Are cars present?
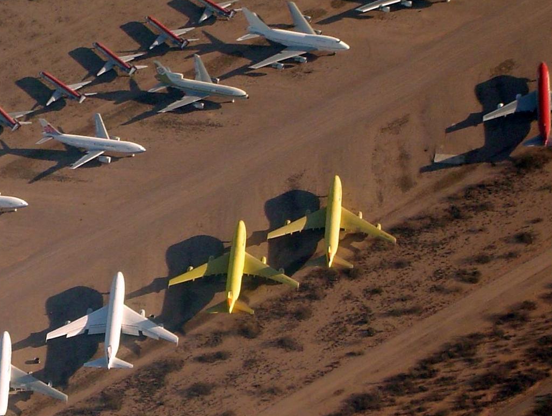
No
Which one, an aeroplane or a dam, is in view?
aeroplane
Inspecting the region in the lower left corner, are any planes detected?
Yes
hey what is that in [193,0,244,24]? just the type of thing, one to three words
airplane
